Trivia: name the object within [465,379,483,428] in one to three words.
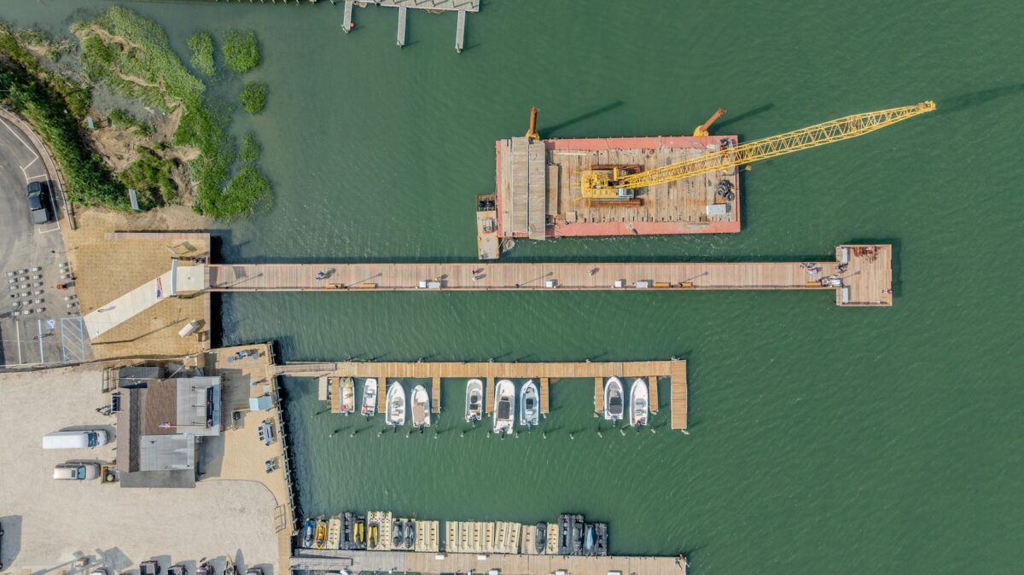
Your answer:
boat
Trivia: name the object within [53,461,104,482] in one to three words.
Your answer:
car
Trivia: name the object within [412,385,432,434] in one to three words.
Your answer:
boat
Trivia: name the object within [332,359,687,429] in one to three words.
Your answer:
pier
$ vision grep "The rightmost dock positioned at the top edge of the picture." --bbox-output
[343,0,479,50]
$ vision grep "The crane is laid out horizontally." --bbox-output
[576,100,935,210]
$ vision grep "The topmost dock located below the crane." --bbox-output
[206,245,892,306]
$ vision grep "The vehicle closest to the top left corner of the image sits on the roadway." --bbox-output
[25,177,54,229]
